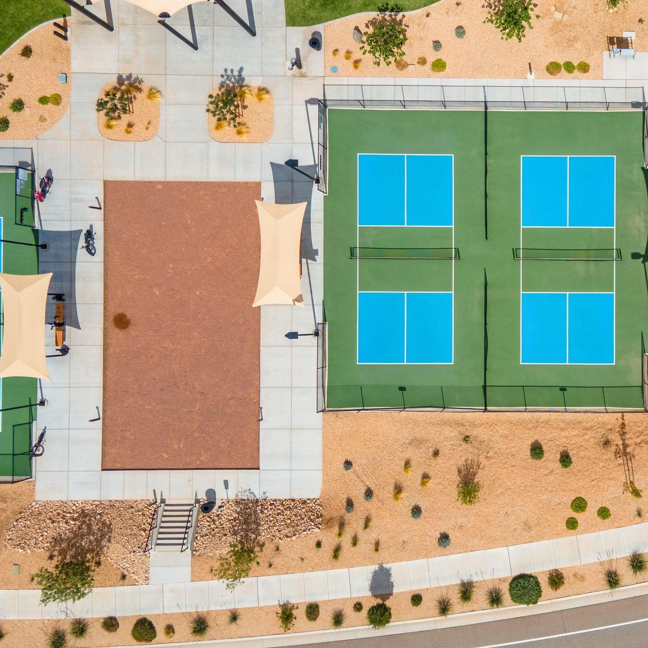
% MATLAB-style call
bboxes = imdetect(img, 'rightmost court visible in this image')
[485,109,648,410]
